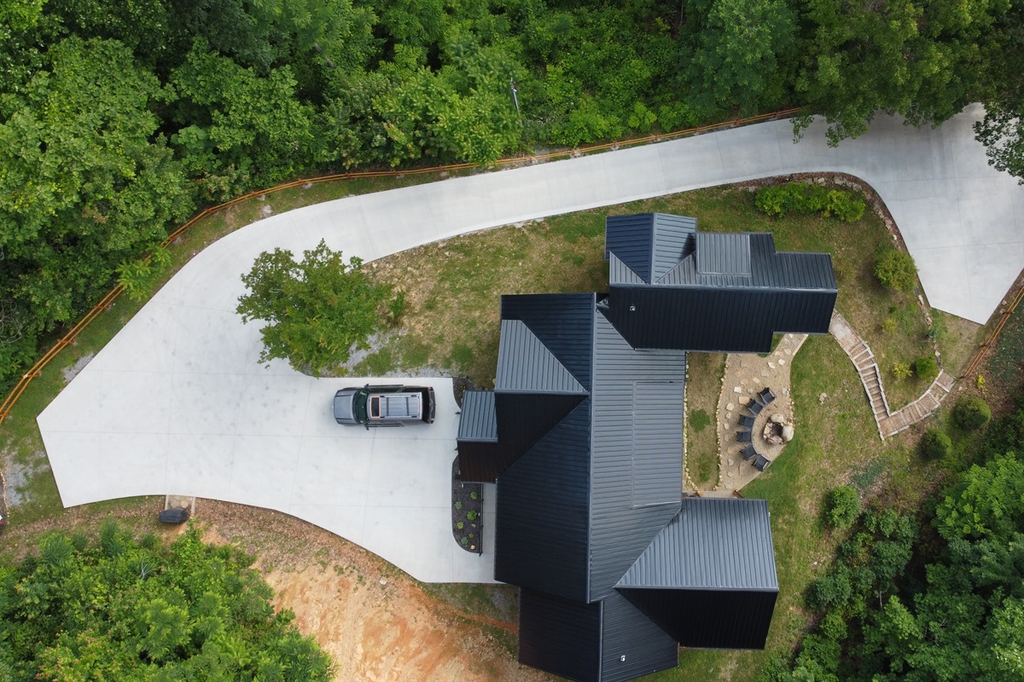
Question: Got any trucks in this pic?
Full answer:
No, no truck can be seen from above.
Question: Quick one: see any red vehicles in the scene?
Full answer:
No, the frame has no red vehicle in it.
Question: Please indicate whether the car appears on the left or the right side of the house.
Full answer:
Looking at the photo, the car lies to the left of the house.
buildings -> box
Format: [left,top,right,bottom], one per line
[454,212,839,682]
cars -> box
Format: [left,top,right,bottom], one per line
[333,383,437,428]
